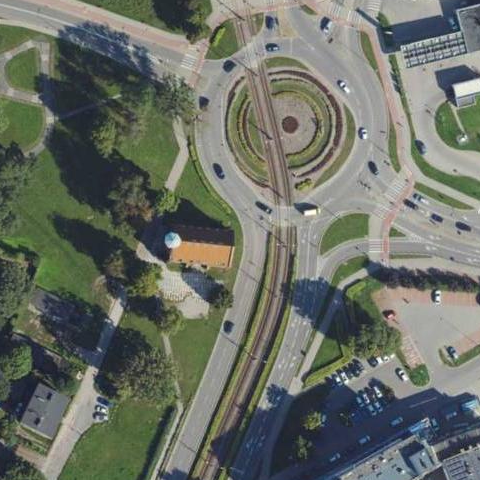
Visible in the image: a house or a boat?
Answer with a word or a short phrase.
house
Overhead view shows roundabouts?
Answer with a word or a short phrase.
Yes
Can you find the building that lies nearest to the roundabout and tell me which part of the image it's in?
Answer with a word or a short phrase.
center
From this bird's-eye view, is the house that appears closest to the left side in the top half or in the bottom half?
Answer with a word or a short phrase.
bottom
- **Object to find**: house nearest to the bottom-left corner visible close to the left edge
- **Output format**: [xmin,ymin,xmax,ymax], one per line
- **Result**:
[23,384,71,437]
